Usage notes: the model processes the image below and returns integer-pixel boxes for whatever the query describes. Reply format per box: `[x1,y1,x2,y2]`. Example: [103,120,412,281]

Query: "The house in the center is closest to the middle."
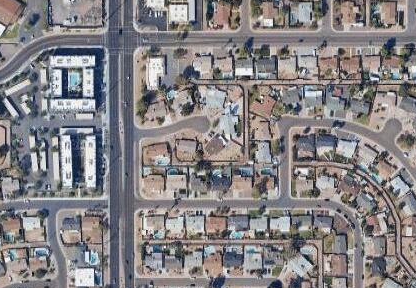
[201,135,226,160]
